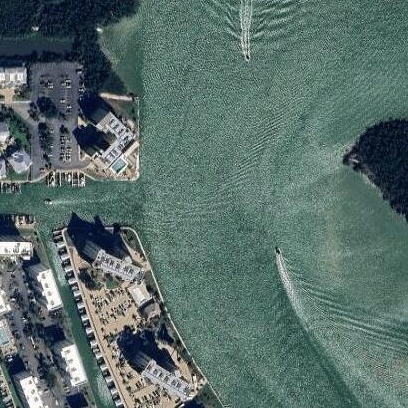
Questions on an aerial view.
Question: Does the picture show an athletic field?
No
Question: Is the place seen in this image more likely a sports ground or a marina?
marina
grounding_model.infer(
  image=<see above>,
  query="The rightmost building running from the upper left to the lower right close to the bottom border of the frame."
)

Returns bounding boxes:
[130,351,192,402]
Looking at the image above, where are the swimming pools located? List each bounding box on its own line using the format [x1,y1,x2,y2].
[0,324,12,347]
[110,157,129,177]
